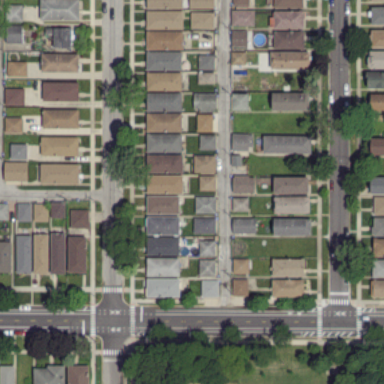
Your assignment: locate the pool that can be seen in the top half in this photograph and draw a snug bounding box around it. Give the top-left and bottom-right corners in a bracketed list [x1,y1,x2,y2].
[252,32,266,46]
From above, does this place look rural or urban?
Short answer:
urban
